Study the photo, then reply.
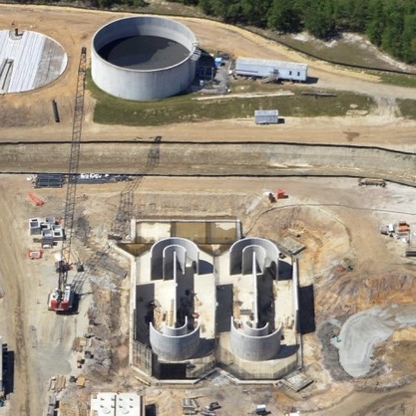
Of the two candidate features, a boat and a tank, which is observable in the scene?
tank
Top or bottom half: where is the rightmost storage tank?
top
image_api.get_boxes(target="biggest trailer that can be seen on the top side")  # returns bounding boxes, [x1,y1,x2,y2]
[234,56,308,84]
